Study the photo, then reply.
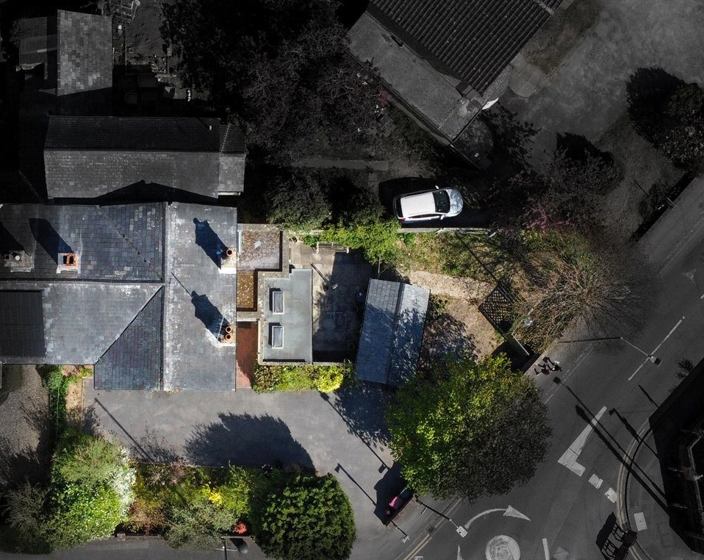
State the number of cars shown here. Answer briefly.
2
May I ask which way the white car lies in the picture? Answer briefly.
horizontally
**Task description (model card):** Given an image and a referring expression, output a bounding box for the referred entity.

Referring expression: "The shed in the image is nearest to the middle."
[354,281,430,388]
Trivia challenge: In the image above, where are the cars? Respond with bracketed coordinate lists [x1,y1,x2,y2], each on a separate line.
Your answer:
[378,477,428,526]
[388,189,462,228]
